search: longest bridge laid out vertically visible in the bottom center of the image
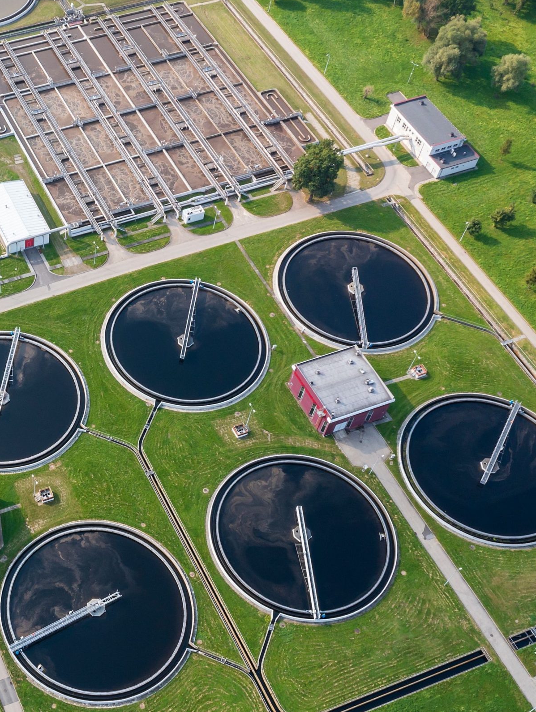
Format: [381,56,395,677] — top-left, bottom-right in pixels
[291,505,325,621]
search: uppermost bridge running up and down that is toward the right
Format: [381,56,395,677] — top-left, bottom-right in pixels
[347,266,372,350]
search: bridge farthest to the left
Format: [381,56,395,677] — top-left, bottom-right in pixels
[0,328,21,416]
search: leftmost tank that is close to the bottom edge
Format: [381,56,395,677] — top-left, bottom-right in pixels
[0,521,199,706]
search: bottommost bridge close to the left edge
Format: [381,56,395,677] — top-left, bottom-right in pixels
[7,589,124,657]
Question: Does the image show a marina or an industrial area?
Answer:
industrial area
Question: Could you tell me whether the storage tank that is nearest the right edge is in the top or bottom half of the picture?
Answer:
bottom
